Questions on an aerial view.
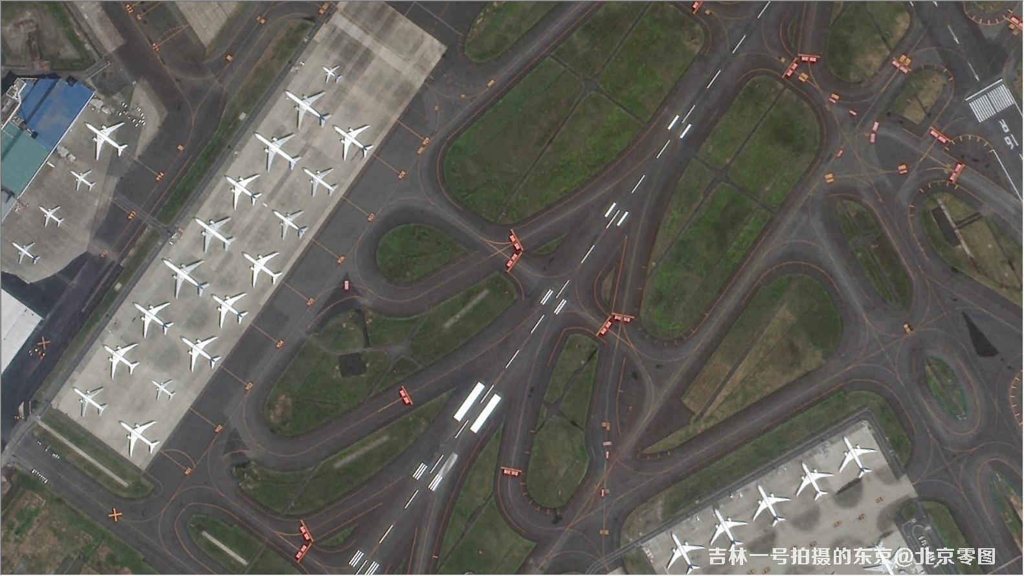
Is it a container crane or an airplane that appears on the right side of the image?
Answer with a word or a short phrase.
airplane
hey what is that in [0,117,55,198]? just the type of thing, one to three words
hangar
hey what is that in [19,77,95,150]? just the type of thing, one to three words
hangar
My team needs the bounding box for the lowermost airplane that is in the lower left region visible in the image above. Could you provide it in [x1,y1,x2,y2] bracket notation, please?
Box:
[120,422,160,456]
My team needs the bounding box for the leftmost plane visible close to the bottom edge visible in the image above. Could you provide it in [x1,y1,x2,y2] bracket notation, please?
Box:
[668,534,704,576]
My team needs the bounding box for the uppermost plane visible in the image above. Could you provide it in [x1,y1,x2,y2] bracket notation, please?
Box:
[322,66,342,82]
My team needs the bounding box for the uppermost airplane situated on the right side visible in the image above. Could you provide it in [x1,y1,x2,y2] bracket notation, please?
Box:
[840,437,877,479]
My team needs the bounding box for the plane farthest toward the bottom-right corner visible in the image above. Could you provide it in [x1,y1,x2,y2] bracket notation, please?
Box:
[865,537,905,576]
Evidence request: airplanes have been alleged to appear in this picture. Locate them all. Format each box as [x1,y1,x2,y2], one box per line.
[13,242,39,263]
[39,205,64,226]
[162,259,208,296]
[120,422,160,456]
[797,463,834,502]
[273,211,307,238]
[225,174,261,208]
[712,510,747,551]
[151,379,176,401]
[212,293,248,326]
[73,387,107,415]
[865,537,905,576]
[134,303,173,336]
[181,337,221,371]
[754,486,790,528]
[322,66,342,82]
[285,90,330,128]
[70,170,96,191]
[255,133,301,170]
[103,344,140,377]
[303,167,337,195]
[242,252,282,287]
[840,437,877,479]
[195,217,235,252]
[86,123,127,158]
[333,124,373,160]
[668,534,704,576]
